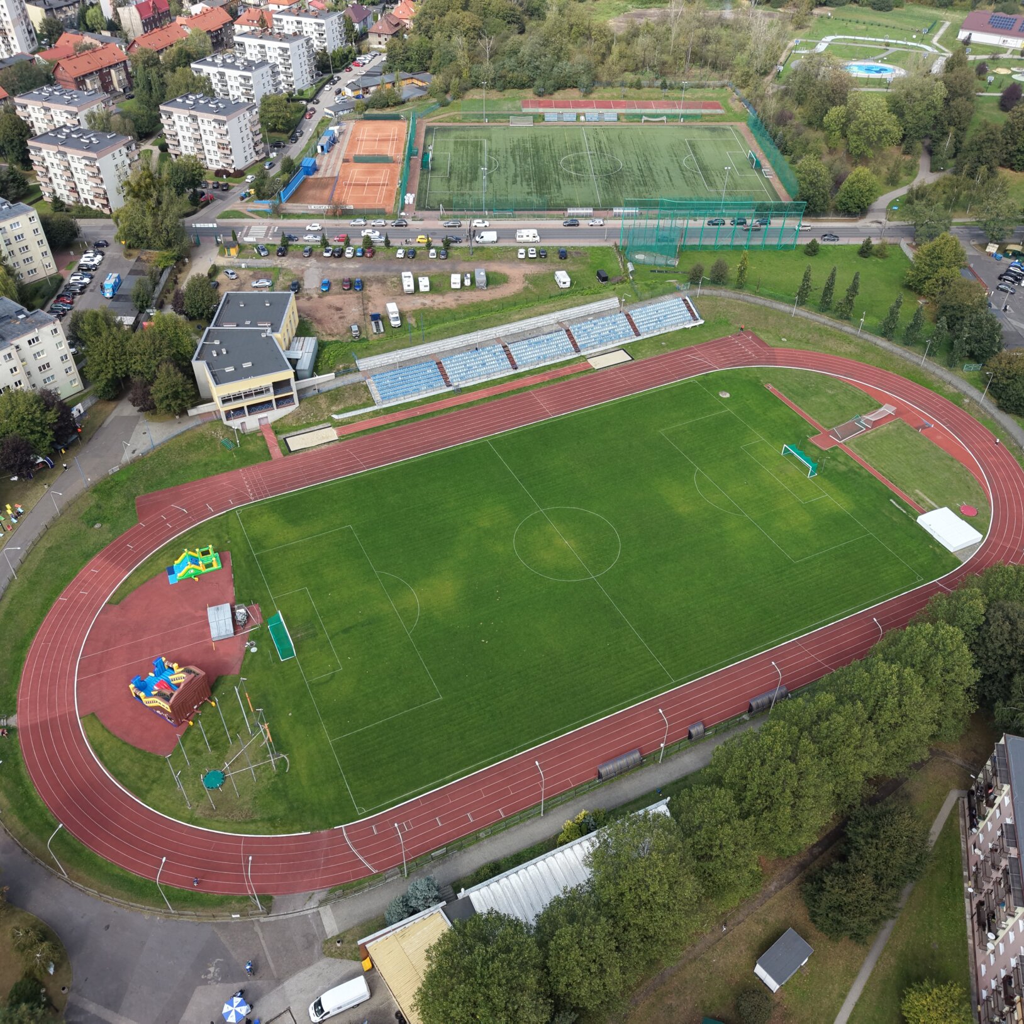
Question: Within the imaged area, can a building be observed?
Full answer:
Yes, the photo shows a building.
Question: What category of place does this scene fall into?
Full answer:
This looks like a sports ground.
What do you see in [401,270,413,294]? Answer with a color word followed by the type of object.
white vehicle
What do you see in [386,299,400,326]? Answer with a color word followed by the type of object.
white vehicle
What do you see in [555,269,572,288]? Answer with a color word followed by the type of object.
white camper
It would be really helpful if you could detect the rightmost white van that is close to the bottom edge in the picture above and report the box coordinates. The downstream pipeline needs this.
[310,977,369,1022]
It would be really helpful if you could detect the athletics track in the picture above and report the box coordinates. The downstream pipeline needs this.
[15,348,1024,897]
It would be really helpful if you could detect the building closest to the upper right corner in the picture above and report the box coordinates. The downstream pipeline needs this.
[957,10,1024,49]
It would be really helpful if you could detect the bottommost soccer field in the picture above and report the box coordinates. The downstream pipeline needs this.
[237,380,922,813]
